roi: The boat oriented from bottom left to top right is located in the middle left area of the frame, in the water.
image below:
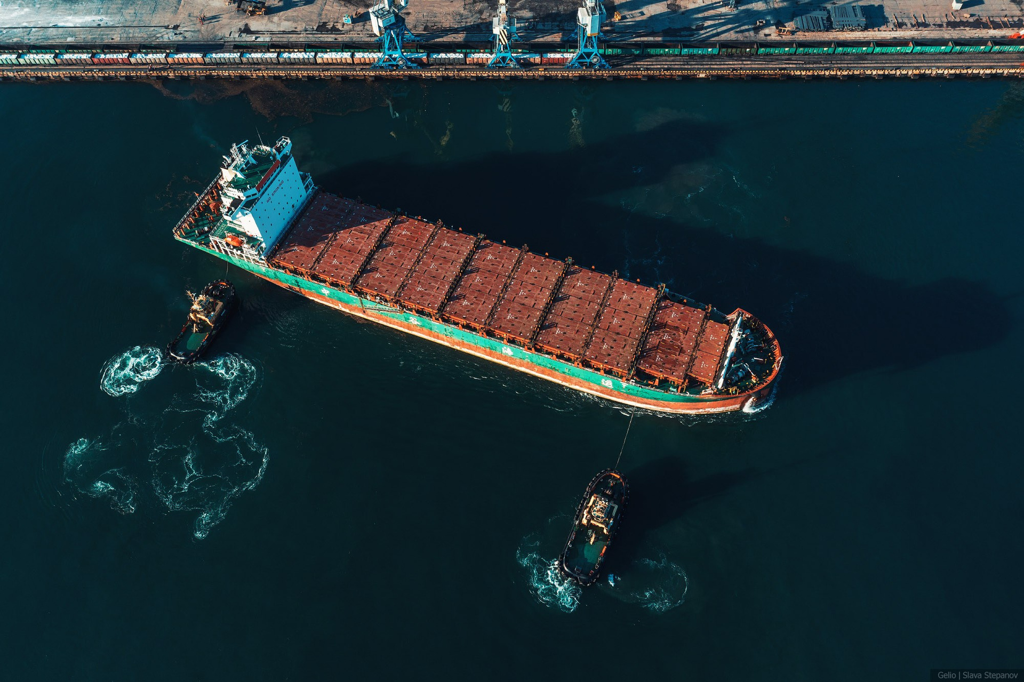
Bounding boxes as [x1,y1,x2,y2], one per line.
[166,276,236,363]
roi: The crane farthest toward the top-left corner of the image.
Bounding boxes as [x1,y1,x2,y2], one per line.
[365,0,417,69]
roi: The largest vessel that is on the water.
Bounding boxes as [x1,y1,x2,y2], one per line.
[173,126,785,413]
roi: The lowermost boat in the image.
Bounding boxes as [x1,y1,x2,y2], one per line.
[560,468,631,587]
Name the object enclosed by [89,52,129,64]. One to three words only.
rail car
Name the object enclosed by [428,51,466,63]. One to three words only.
rail car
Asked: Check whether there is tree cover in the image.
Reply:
No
